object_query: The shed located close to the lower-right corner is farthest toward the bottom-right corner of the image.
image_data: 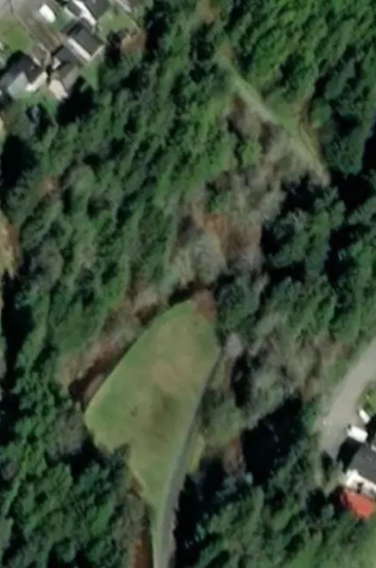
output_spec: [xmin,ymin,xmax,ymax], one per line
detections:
[338,487,376,518]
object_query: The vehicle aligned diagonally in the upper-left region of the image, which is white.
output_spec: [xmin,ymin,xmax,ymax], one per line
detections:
[39,2,55,20]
